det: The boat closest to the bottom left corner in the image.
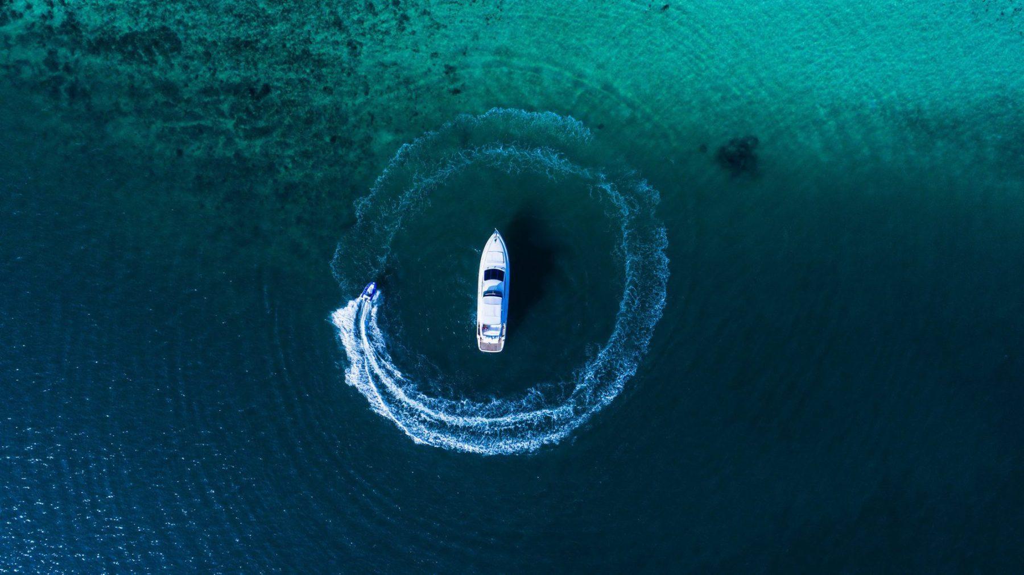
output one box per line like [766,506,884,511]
[361,282,375,303]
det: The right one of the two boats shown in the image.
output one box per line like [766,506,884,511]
[477,226,510,353]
